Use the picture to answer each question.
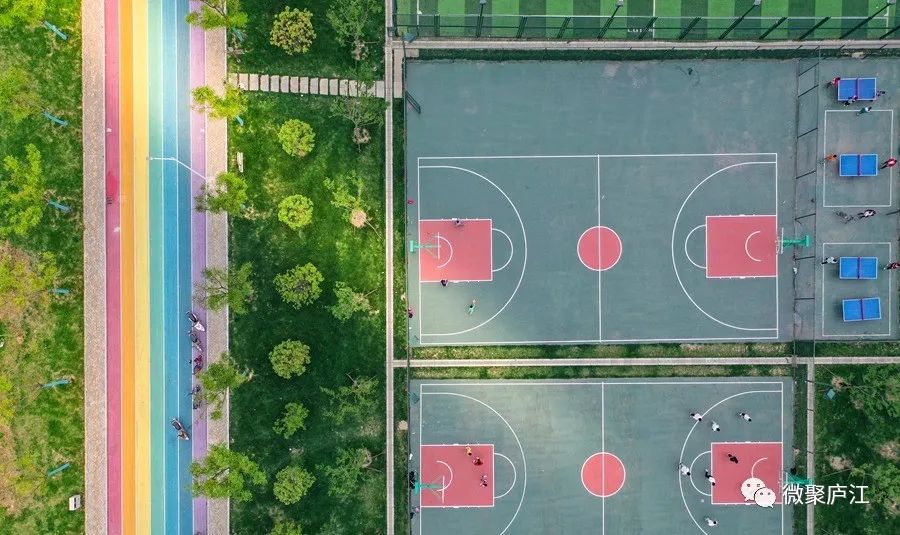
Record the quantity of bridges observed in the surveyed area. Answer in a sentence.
The photo contains no bridges.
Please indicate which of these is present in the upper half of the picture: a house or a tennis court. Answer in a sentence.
What appears in the upper half of the picture is a tennis court.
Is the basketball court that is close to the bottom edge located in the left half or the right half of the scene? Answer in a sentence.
The basketball court that is close to the bottom edge appears in the right half of the scene.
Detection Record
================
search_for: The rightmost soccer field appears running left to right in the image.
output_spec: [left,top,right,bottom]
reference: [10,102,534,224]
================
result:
[398,0,900,39]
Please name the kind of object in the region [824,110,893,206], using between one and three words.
tennis court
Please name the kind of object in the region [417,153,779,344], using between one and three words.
basketball court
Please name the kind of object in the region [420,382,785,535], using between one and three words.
basketball court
